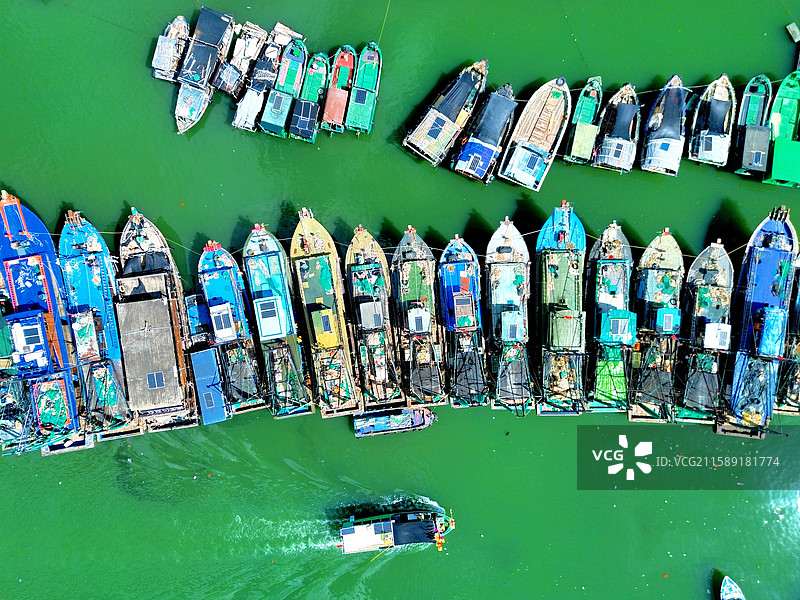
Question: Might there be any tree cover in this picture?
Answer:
No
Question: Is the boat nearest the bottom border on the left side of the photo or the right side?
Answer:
right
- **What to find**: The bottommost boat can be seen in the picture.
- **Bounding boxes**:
[716,573,748,600]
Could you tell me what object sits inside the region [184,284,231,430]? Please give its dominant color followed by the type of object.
blue boat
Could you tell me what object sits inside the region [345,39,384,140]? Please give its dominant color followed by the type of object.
green boat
